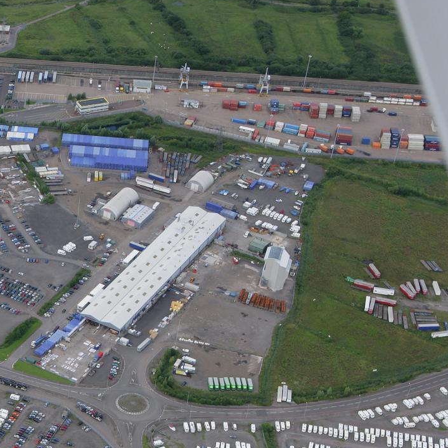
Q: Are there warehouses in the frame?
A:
Yes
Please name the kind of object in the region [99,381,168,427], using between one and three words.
roundabout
